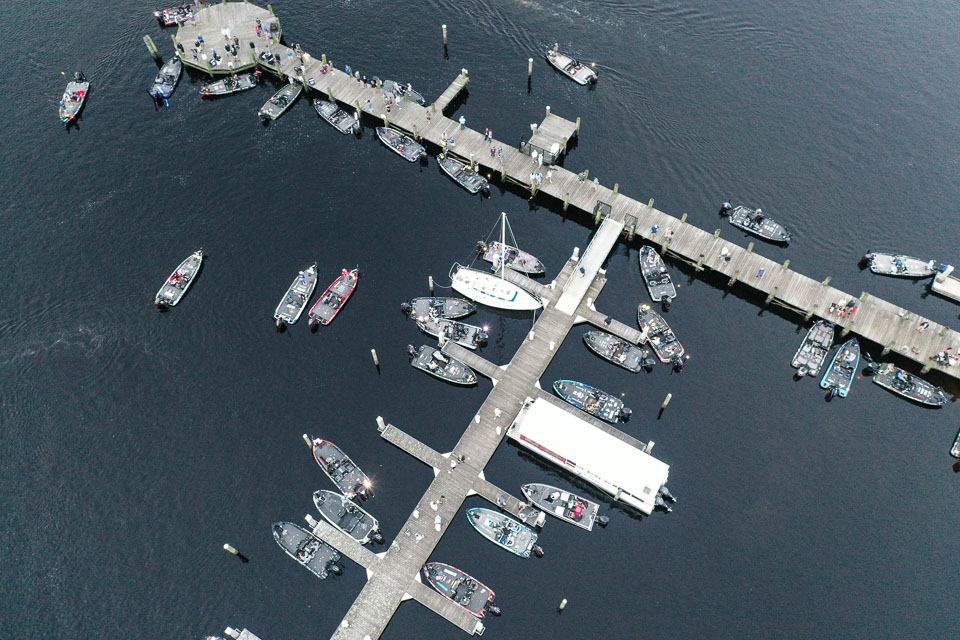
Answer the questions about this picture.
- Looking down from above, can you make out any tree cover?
No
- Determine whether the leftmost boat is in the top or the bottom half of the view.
top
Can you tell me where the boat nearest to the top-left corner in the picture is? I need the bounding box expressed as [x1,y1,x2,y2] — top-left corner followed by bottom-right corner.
[61,72,89,128]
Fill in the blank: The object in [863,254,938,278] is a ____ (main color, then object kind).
white boat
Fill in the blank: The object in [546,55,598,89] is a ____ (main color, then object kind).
white boat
